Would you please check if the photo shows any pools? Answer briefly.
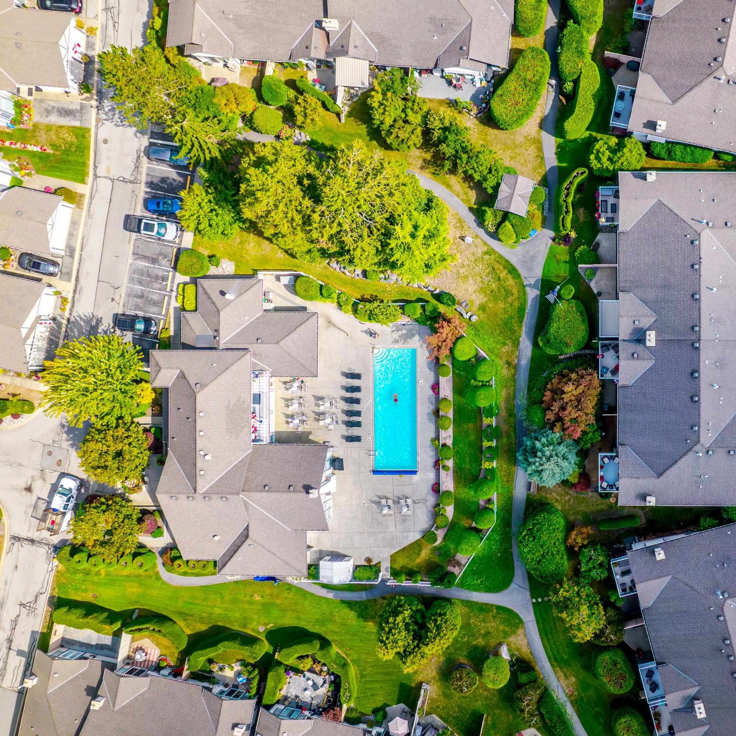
Yes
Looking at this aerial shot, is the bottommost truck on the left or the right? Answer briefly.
left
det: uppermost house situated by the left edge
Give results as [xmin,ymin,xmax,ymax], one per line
[0,0,86,91]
